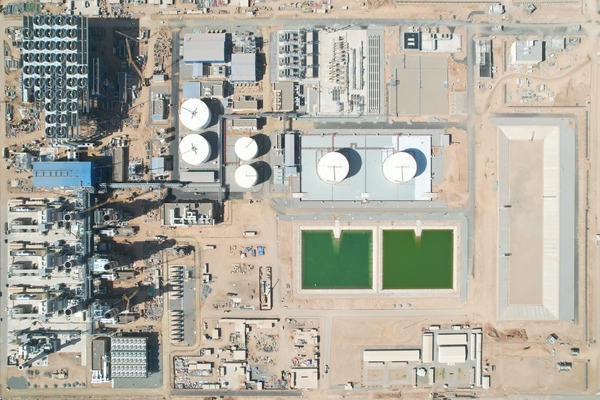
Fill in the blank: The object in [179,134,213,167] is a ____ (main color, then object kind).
white storage tank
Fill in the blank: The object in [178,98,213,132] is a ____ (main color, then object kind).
white storage tank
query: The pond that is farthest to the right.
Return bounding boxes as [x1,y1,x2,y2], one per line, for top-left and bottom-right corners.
[487,108,578,324]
